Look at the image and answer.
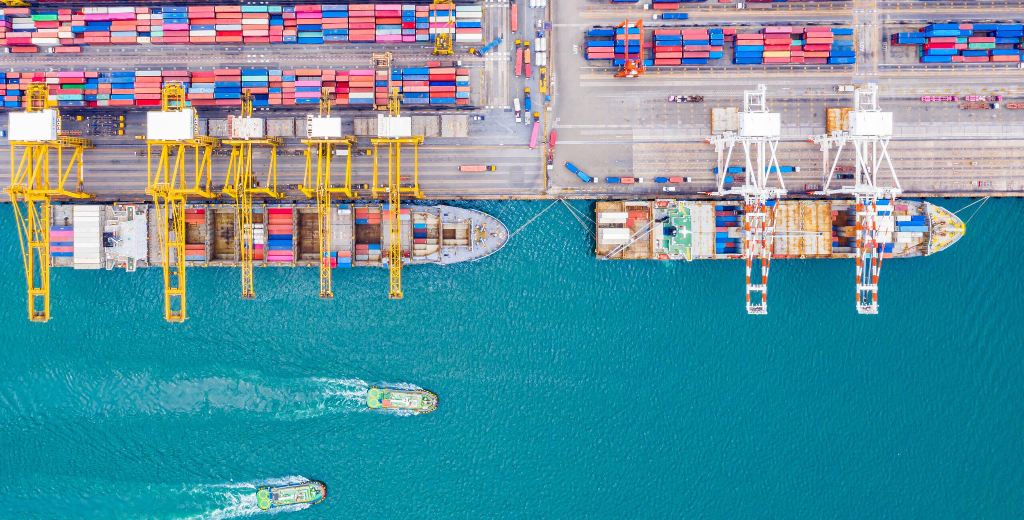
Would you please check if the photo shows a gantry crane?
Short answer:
Yes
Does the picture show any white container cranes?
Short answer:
Yes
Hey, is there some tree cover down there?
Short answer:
No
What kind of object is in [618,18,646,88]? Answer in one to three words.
container crane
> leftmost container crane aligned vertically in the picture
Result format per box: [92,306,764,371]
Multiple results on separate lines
[9,82,97,322]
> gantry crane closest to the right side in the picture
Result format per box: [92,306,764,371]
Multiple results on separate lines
[808,82,903,315]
